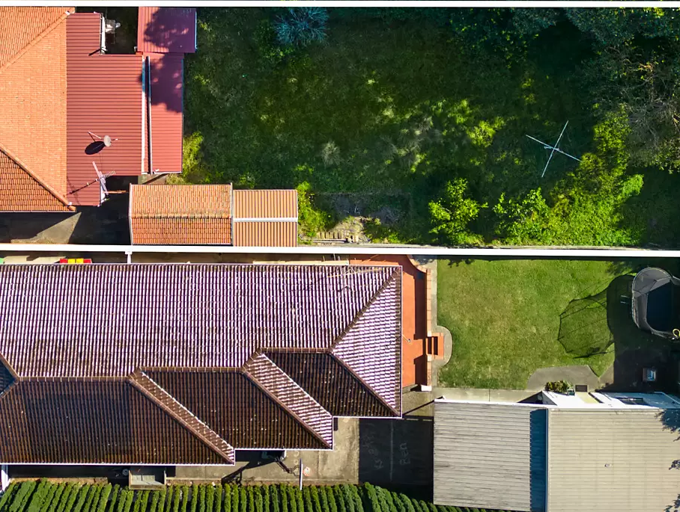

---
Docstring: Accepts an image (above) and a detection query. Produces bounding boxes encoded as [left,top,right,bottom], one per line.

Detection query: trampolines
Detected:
[621,269,680,340]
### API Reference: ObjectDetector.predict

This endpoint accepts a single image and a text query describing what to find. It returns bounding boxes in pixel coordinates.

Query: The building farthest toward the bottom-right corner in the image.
[529,390,680,512]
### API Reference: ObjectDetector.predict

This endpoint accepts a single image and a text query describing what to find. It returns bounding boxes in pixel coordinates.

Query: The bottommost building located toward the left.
[0,264,404,466]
